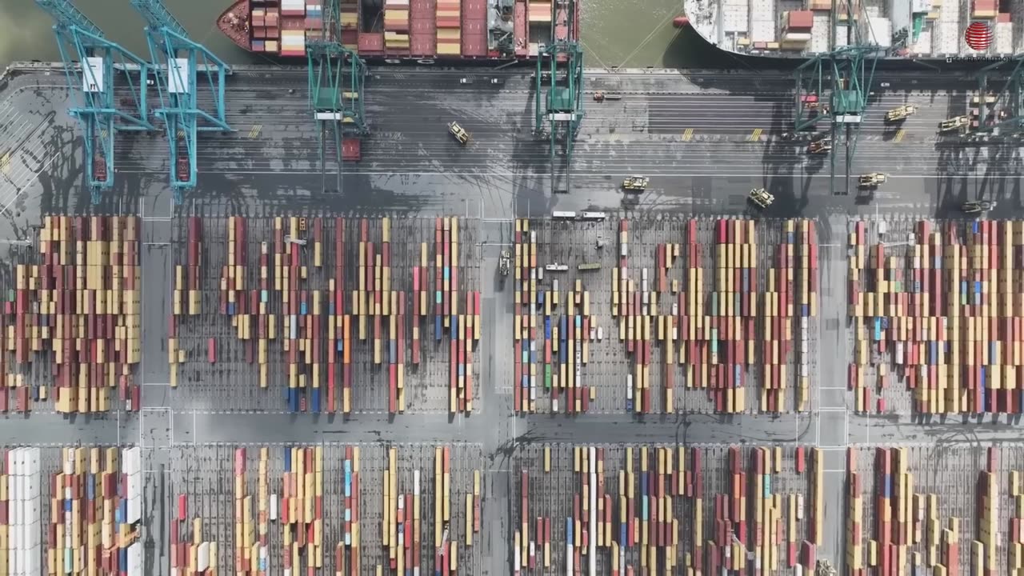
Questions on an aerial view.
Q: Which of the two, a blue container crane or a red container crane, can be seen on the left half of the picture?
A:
blue container crane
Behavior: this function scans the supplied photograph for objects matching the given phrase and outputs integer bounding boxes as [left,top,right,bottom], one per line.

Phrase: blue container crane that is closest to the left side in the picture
[41,0,159,199]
